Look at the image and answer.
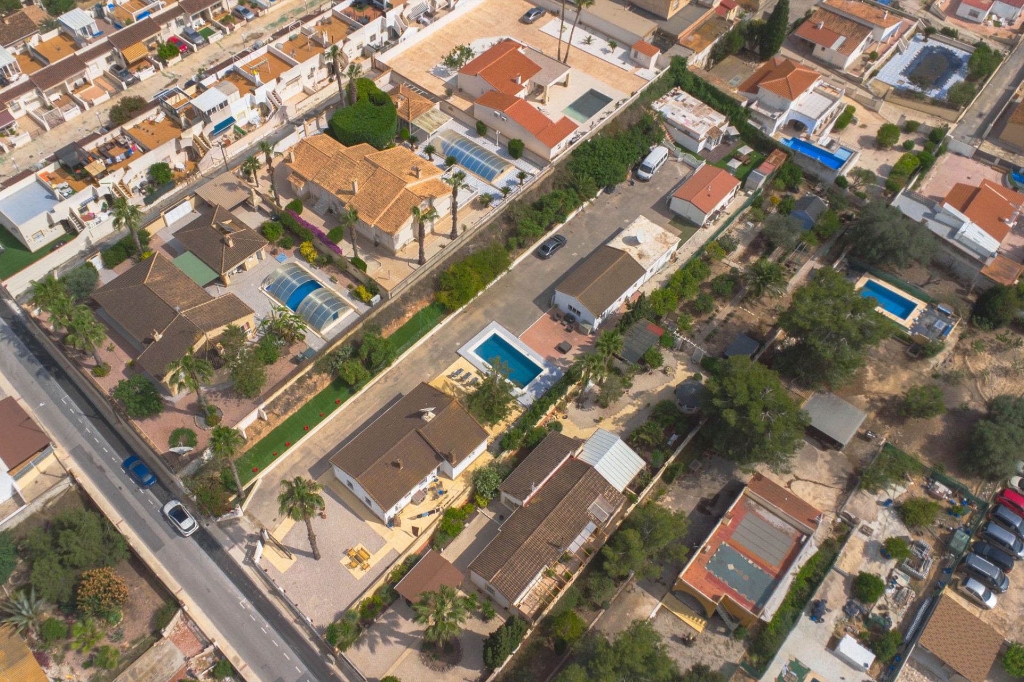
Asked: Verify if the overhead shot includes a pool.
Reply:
Yes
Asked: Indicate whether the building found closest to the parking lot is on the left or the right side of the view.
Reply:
right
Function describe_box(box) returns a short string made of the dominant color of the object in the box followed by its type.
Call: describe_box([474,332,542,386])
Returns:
blue swimming pool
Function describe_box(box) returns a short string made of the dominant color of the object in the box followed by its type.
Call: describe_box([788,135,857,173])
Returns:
blue swimming pool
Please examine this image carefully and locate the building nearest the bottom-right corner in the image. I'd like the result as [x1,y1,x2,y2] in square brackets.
[909,594,1009,682]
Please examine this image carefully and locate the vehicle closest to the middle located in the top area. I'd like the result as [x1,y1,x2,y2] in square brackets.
[537,230,568,258]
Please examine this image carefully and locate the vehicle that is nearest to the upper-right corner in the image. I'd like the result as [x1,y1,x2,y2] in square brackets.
[638,139,669,175]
